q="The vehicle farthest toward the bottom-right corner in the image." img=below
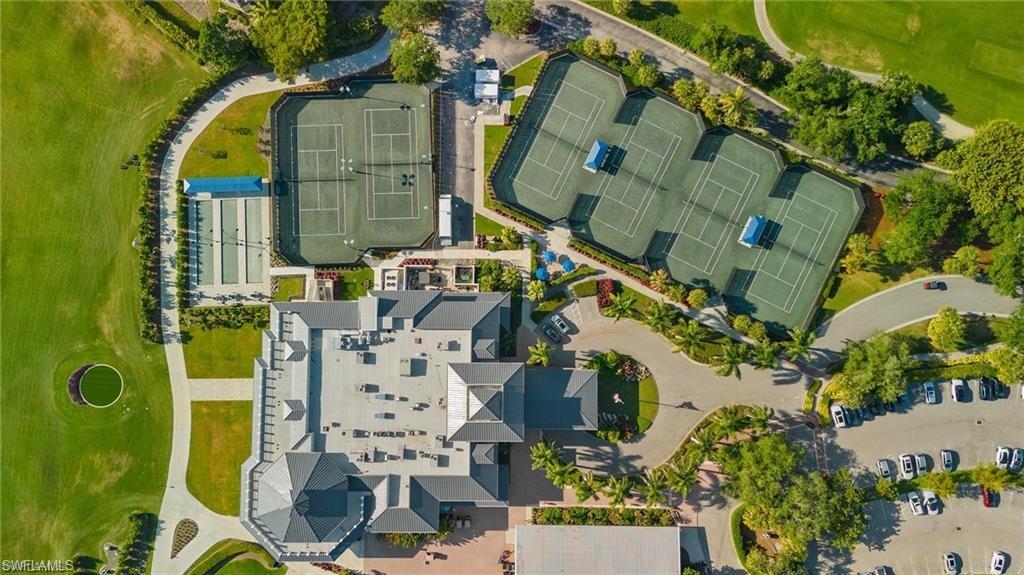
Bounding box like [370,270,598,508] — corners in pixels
[988,551,1005,574]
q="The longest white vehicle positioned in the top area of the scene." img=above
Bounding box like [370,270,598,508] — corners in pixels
[439,195,452,248]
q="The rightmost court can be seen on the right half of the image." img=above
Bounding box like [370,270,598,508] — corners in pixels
[726,168,860,334]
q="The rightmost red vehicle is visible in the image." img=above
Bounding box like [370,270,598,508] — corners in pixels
[980,486,993,507]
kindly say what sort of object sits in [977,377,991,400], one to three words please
car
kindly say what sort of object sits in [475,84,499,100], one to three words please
shed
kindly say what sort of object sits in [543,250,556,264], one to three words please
umbrella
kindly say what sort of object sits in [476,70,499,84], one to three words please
shed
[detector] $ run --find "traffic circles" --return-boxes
[541,298,820,479]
